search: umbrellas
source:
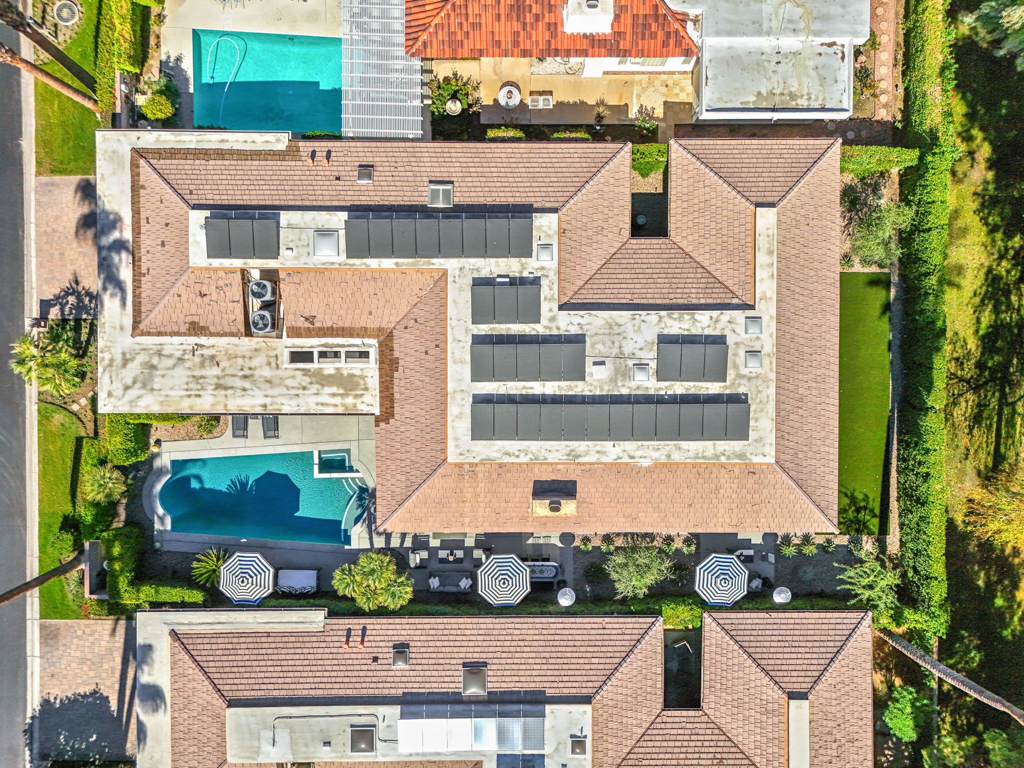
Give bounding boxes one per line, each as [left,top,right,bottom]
[693,551,745,604]
[479,552,529,603]
[223,550,275,602]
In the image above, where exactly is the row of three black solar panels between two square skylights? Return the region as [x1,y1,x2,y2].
[656,344,729,382]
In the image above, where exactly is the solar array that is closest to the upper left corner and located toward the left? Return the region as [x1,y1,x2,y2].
[204,219,280,259]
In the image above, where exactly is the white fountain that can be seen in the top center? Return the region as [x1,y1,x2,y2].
[498,83,520,107]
